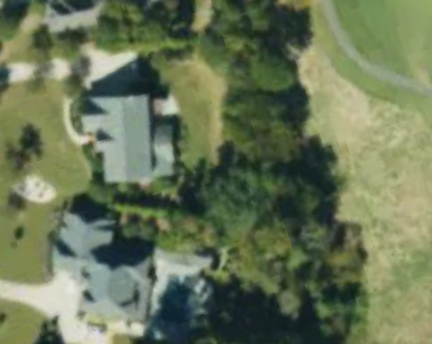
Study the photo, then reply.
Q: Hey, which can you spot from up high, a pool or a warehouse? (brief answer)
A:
pool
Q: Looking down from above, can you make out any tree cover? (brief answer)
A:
Yes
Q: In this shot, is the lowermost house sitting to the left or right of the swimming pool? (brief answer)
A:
to the left of it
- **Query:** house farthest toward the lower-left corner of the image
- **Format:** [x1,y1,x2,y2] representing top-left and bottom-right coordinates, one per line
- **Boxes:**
[53,209,157,323]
